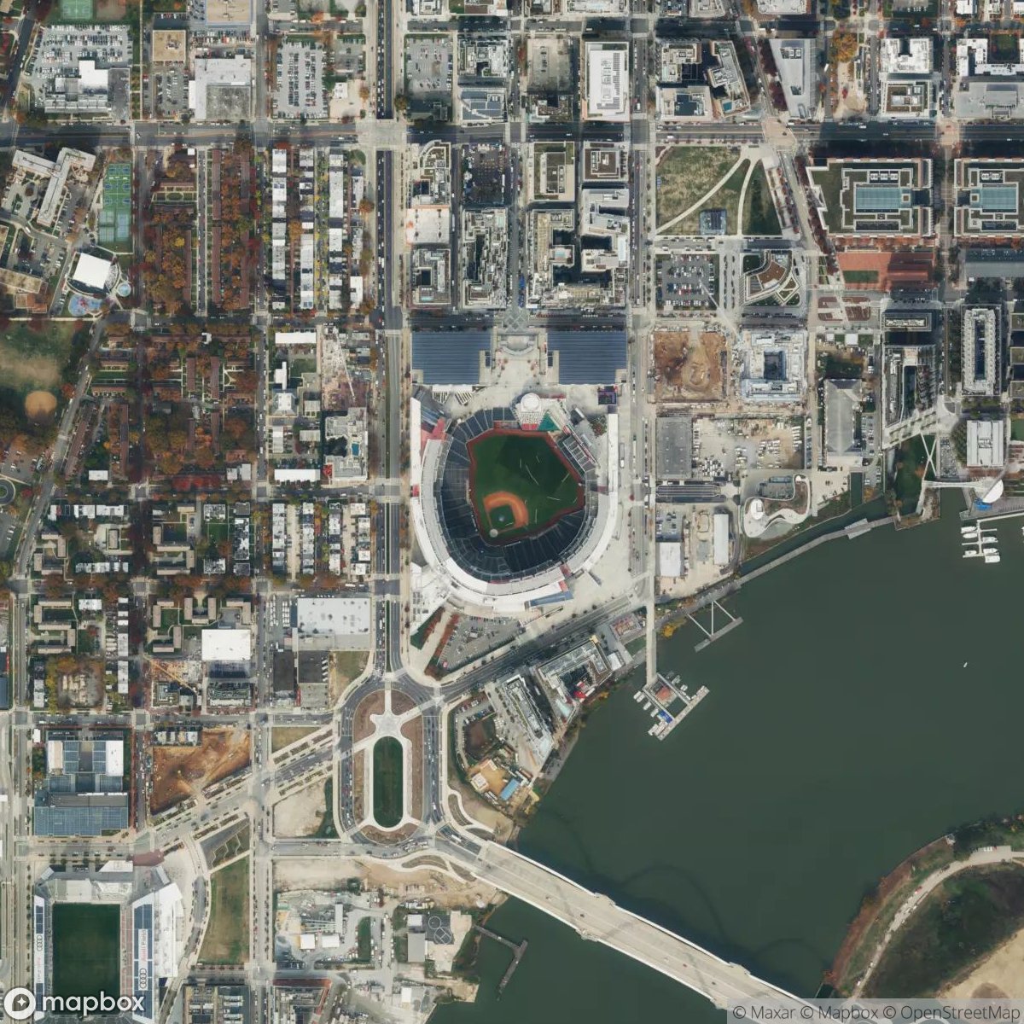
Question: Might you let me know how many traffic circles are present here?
1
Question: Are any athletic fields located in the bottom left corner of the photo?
Yes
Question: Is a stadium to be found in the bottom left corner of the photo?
Yes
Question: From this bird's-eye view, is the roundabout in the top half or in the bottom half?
bottom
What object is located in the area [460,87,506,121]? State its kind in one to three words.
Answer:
building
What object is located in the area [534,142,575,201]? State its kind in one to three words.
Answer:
building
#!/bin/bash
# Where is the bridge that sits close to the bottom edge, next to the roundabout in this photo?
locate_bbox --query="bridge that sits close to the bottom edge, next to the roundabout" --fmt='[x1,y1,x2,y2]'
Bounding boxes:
[472,840,841,1024]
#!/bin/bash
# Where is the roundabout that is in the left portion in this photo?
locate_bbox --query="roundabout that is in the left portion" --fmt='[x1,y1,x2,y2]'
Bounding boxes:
[337,674,440,856]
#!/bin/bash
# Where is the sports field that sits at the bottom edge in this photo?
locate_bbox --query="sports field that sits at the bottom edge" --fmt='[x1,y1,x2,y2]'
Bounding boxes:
[52,904,120,1015]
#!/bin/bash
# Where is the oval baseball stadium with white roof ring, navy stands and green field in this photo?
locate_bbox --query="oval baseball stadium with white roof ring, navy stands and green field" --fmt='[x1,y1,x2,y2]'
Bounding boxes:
[410,385,618,617]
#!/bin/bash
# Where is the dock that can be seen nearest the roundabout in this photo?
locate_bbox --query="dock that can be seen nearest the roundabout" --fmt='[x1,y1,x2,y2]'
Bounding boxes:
[475,925,527,993]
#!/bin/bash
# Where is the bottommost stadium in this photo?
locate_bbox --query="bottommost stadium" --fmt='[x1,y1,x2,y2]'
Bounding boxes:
[34,867,184,1024]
